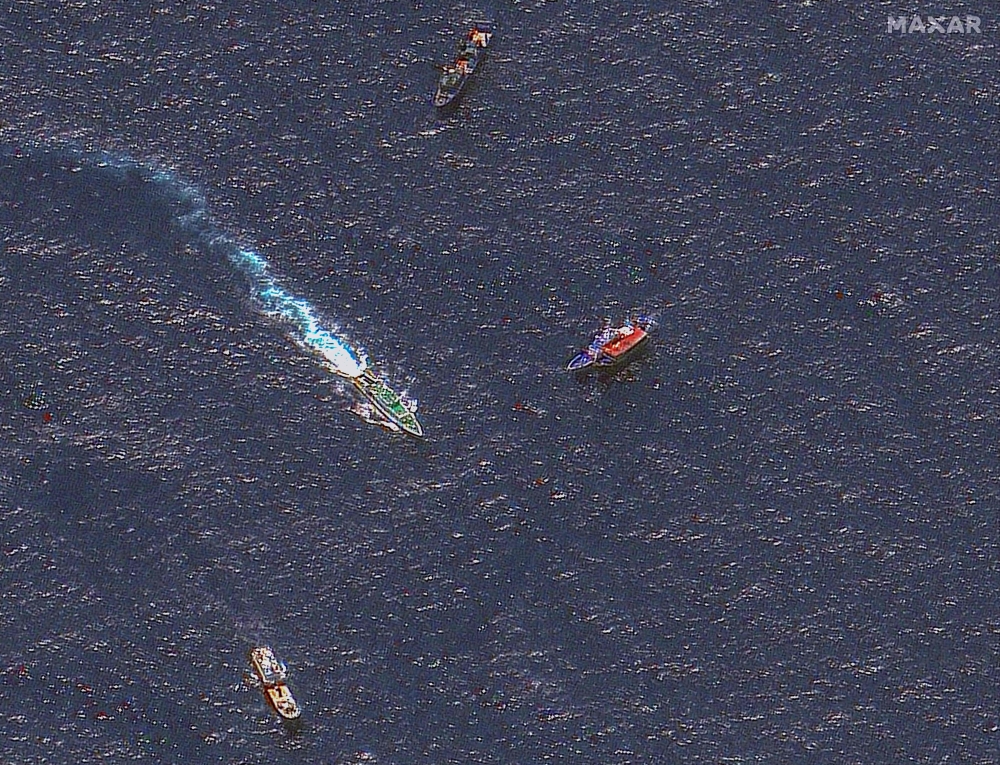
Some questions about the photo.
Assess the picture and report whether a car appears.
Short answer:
No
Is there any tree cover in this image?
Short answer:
No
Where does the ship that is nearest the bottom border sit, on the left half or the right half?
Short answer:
left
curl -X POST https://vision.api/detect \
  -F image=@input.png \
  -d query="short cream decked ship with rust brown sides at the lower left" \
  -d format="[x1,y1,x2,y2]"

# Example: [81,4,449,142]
[251,646,301,719]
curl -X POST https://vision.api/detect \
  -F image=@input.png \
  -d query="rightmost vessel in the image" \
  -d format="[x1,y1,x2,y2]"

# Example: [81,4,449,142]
[567,312,656,371]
